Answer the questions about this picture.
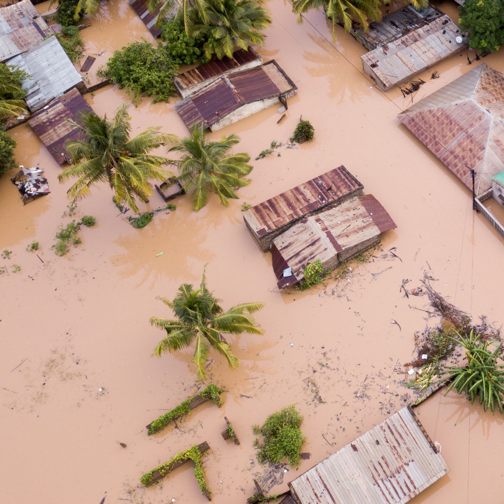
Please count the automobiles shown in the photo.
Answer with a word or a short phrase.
0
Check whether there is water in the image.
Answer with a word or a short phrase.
Yes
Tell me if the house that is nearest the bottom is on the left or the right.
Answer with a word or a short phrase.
right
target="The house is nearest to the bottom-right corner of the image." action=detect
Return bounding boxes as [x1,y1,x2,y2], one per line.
[288,404,451,504]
